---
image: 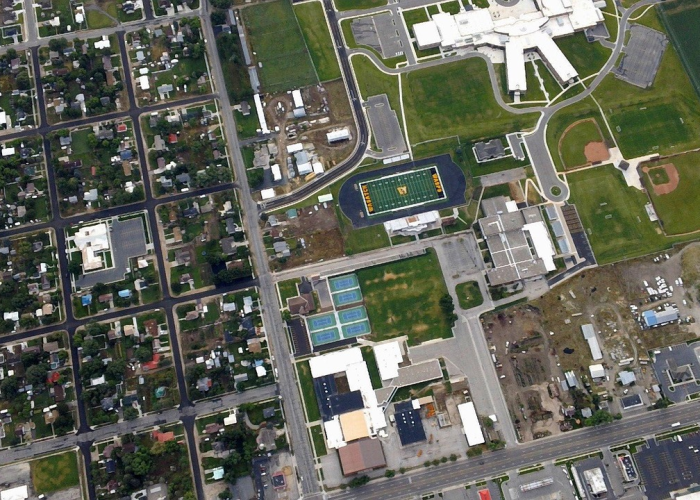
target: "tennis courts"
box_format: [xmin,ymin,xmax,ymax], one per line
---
[328,273,359,293]
[338,305,368,324]
[307,312,337,332]
[333,288,363,306]
[311,327,341,346]
[340,320,371,339]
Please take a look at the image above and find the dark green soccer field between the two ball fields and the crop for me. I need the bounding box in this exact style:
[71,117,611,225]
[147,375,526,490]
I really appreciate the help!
[607,99,699,153]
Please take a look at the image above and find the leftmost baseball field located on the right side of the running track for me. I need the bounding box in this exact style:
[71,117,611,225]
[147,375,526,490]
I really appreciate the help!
[558,117,610,170]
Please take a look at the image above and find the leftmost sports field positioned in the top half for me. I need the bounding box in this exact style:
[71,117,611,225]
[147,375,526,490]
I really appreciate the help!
[355,162,450,220]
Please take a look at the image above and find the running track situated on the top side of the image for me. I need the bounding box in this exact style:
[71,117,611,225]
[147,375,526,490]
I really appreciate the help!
[340,154,466,228]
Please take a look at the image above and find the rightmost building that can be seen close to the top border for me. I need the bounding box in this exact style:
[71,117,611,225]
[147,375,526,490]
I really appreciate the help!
[412,0,606,94]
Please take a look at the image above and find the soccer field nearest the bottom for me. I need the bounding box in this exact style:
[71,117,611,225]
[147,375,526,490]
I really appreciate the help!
[586,200,647,241]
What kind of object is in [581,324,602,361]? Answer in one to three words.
barn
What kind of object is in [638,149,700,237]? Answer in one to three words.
baseball field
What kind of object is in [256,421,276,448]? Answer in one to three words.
house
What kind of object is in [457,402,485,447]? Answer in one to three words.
building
